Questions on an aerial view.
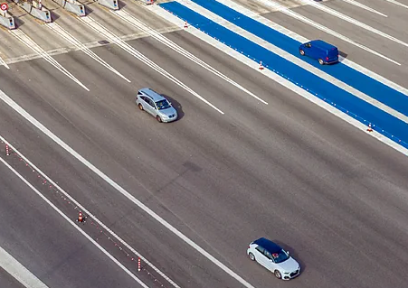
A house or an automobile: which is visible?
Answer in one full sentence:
It is an automobile that can be seen here.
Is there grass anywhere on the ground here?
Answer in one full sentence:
No, grass can't be seen anywhere here.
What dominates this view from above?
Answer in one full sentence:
What you mostly see from above here is paved ground.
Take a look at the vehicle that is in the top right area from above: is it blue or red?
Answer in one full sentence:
The vehicle that is in the top right area looks blue in the image.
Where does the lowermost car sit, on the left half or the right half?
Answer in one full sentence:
You can find the lowermost car on the right side of the picture.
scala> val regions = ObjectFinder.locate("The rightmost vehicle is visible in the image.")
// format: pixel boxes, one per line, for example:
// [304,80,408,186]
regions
[299,34,342,60]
